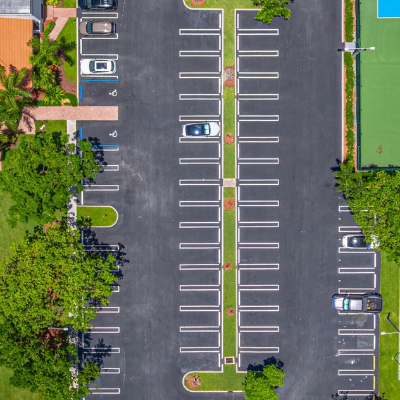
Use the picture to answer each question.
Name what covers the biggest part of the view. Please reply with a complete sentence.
The scene is dominated by paved ground.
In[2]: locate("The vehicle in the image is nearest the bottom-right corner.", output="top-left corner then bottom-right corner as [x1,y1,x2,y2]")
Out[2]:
[334,294,382,313]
